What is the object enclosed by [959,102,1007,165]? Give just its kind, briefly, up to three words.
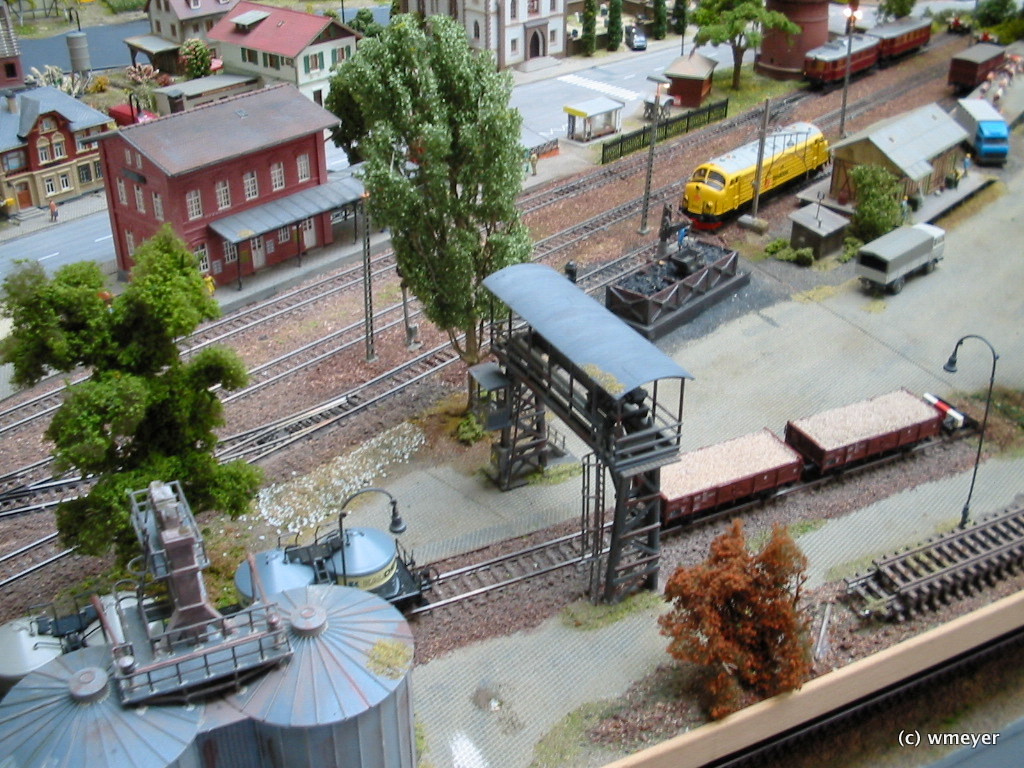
truck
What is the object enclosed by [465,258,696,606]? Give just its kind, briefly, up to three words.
container crane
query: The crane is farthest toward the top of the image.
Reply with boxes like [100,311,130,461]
[641,197,700,259]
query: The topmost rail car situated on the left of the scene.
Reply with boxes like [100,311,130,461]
[224,518,426,625]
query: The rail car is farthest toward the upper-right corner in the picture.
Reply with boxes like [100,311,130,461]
[948,45,1004,88]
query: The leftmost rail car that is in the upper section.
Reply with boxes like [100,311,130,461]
[682,135,827,233]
